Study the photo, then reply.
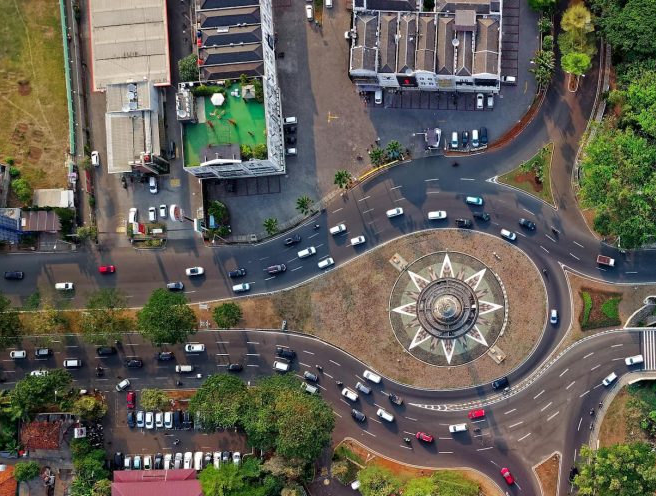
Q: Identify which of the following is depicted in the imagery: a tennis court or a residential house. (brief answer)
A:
residential house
